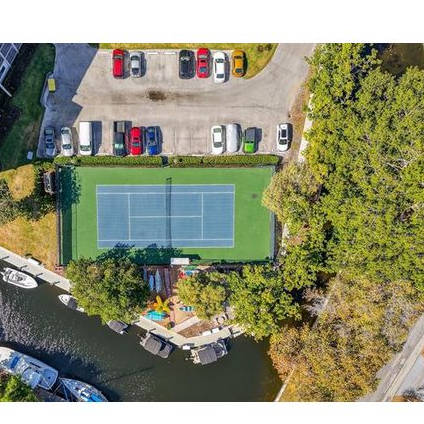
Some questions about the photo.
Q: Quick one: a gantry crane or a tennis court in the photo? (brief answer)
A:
tennis court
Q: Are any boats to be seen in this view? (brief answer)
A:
Yes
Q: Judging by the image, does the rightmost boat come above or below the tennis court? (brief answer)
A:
below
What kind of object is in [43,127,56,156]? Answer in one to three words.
vehicle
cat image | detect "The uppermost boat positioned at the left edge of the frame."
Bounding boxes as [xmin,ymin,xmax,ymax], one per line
[0,263,38,289]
